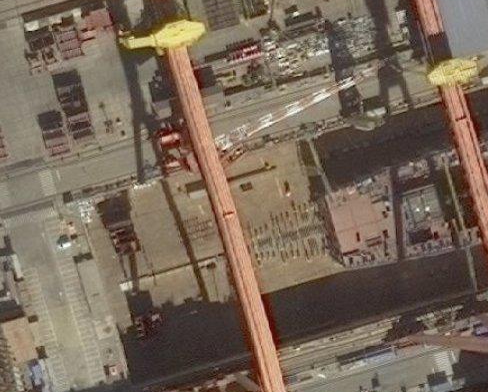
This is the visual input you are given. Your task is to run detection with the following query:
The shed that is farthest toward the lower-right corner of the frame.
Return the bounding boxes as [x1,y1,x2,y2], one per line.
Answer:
[427,378,460,392]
